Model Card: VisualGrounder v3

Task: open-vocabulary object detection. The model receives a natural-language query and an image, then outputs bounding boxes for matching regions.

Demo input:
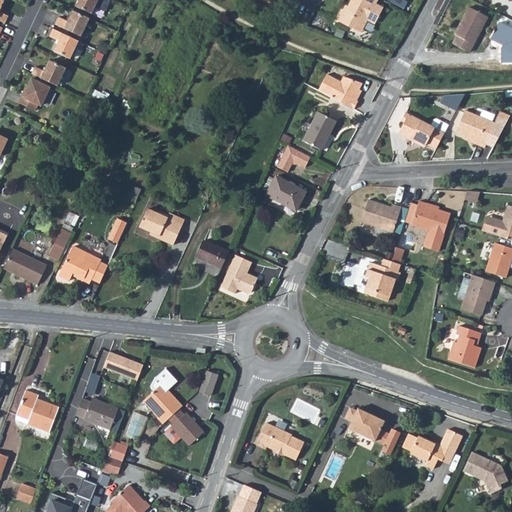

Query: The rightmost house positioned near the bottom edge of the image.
[464,452,510,492]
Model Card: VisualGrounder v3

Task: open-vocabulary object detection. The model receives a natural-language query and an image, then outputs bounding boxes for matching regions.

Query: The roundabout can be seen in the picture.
[235,306,308,379]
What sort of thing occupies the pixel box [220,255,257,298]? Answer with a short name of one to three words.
house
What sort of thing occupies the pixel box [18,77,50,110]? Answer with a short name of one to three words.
house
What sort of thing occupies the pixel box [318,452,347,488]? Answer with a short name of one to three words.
swimming pool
